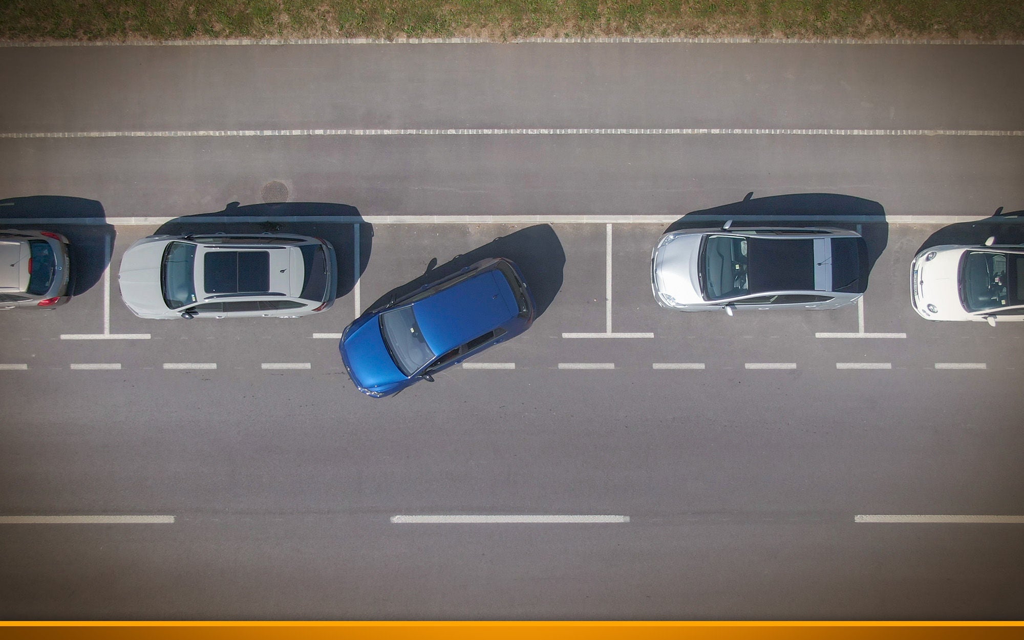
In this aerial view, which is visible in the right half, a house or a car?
car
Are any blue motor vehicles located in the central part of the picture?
Yes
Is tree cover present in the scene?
No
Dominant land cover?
paved ground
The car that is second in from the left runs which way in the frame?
horizontally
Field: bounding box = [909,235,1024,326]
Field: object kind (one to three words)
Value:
car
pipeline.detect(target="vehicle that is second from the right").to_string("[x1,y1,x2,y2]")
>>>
[651,217,867,316]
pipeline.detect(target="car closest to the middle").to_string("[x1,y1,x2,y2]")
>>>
[339,257,537,397]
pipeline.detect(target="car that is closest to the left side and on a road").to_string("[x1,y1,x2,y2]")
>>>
[0,226,77,311]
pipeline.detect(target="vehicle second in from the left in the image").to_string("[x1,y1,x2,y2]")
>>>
[118,229,338,321]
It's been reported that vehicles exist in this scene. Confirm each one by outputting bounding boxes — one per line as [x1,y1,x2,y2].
[0,226,77,311]
[339,257,537,397]
[909,235,1024,326]
[651,217,867,316]
[118,229,338,321]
